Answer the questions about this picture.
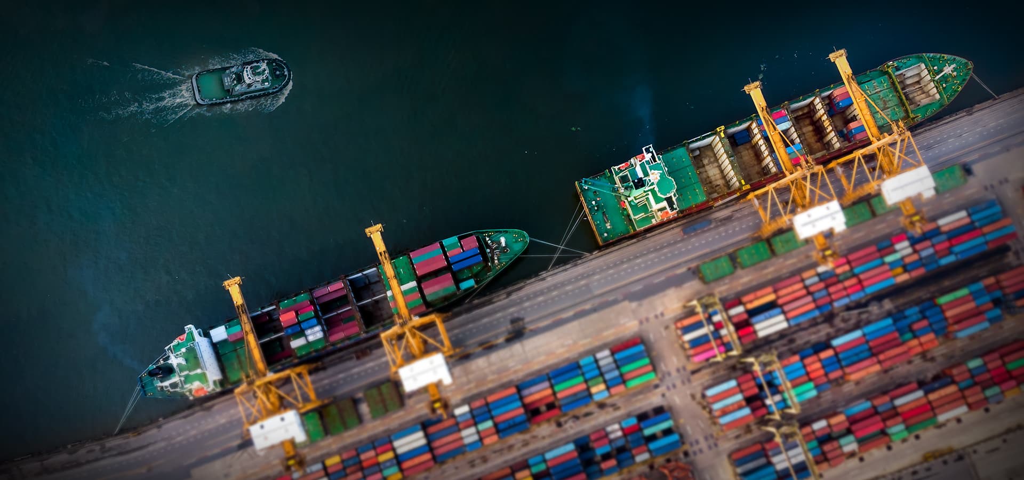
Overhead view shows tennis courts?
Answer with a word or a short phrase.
No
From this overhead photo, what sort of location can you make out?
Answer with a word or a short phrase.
port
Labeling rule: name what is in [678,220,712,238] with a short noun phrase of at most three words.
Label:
vehicle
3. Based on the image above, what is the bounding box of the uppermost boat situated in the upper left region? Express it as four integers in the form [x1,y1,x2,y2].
[192,61,292,102]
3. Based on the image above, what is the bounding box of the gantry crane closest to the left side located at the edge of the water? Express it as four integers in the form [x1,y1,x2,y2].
[226,276,334,467]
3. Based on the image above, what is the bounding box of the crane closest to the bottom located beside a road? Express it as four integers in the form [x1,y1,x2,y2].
[757,412,822,480]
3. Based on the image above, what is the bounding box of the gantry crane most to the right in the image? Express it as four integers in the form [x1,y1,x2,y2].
[824,47,941,232]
